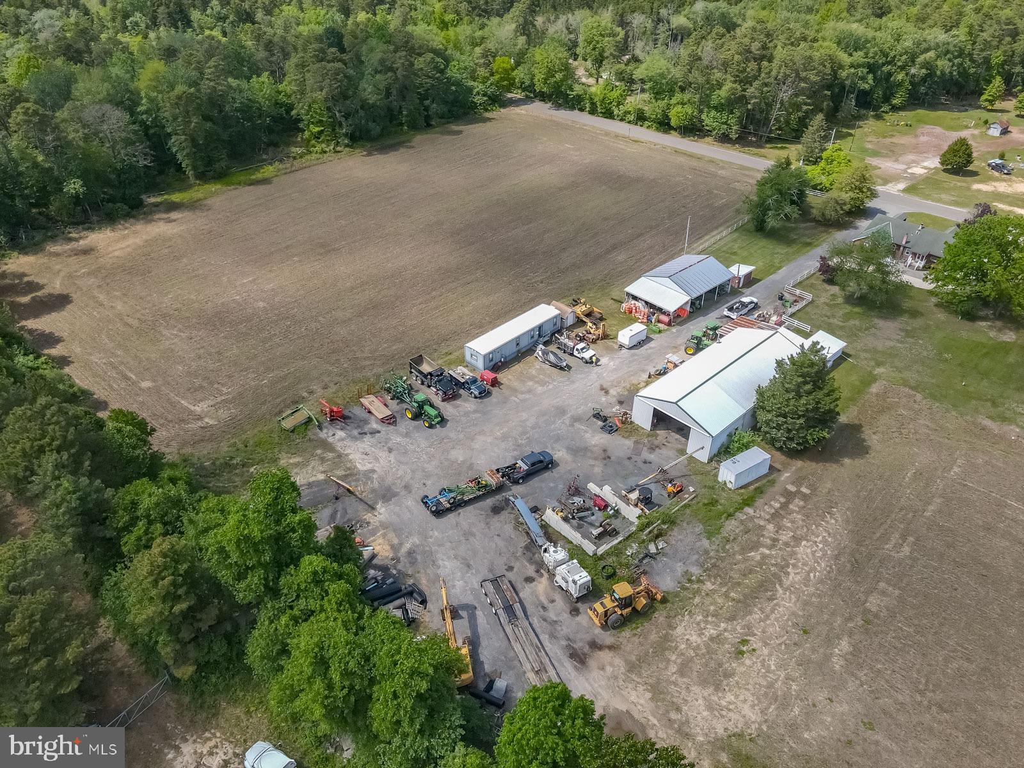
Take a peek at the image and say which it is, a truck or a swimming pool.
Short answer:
truck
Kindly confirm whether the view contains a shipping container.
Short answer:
Yes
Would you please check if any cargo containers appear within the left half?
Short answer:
No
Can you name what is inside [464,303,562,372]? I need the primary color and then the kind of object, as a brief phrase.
white trailer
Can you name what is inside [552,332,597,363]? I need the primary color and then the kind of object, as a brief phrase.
white truck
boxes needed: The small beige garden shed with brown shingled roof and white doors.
[547,300,578,328]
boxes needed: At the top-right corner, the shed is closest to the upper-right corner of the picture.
[986,120,1015,135]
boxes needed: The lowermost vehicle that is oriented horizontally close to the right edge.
[986,162,1015,175]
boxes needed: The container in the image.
[718,446,771,491]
